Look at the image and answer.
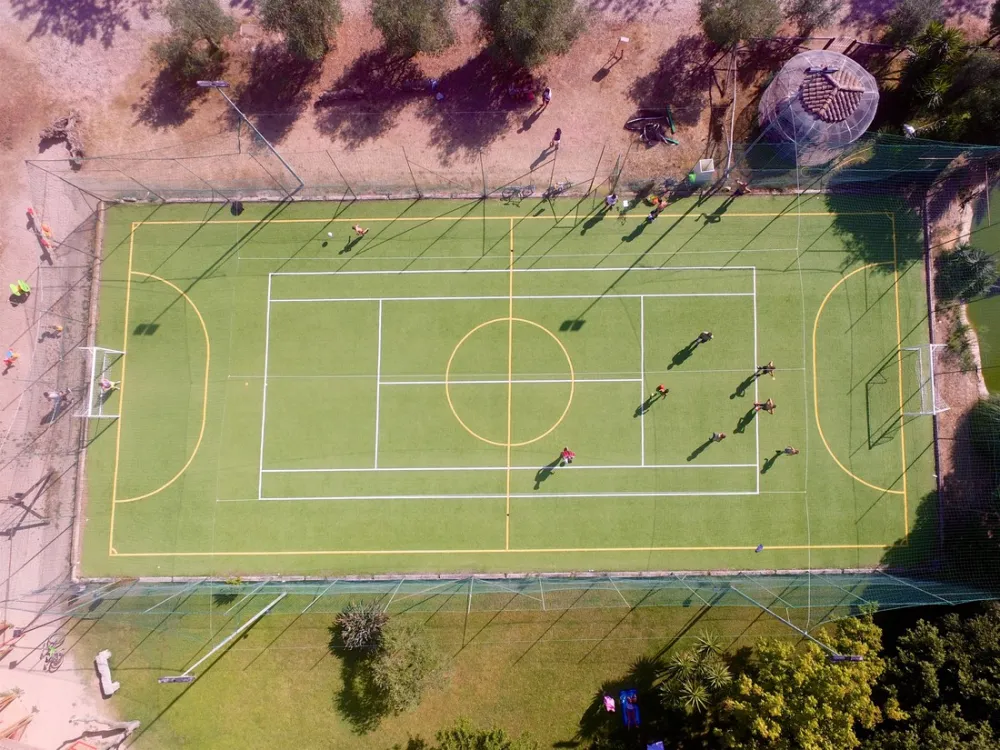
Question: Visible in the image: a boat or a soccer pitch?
soccer pitch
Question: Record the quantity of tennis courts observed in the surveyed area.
1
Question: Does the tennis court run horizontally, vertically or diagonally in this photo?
horizontally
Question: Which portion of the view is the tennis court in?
center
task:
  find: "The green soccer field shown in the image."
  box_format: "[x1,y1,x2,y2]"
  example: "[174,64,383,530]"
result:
[80,194,939,577]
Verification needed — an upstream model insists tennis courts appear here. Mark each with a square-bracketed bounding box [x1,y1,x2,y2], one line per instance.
[259,267,760,499]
